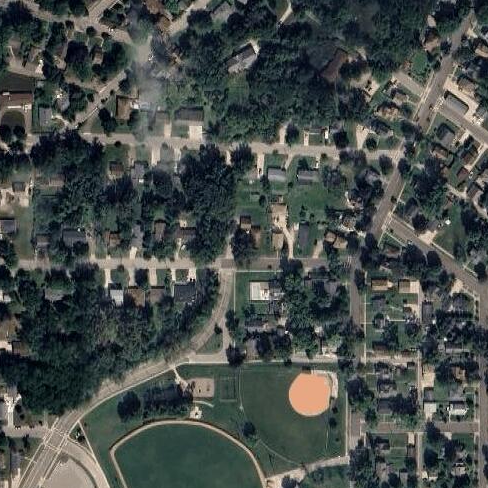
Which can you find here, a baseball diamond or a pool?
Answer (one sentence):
Visible in the photo is a baseball diamond.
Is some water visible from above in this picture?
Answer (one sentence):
No, the scene doesn't show any water.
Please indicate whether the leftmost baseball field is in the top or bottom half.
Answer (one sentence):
You can find the leftmost baseball field in the bottom half.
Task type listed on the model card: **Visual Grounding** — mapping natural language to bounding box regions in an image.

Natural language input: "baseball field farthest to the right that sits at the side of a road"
[237,366,340,466]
